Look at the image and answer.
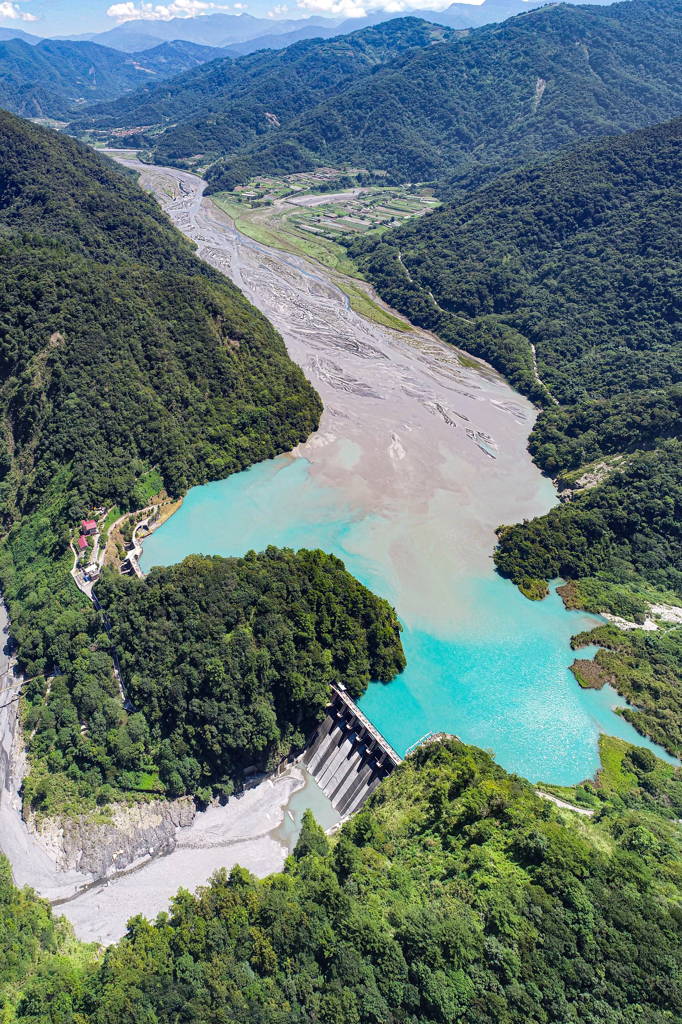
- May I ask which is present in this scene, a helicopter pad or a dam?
dam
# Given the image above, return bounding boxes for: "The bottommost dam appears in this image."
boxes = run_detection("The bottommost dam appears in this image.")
[296,680,407,823]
